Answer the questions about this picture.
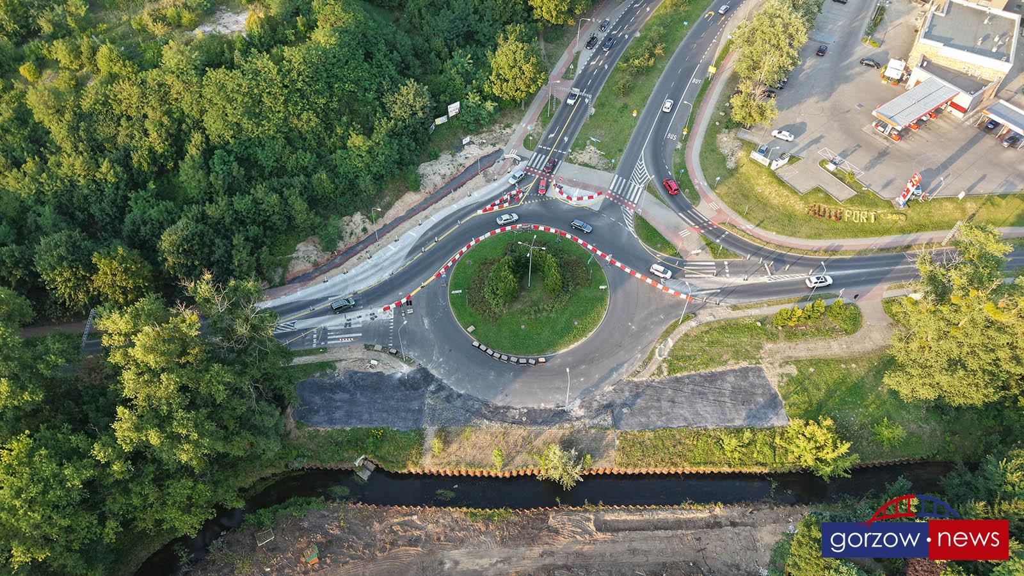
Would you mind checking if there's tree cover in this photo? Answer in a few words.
Yes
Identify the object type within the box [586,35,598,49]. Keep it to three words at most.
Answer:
vehicle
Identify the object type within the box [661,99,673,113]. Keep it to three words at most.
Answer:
vehicle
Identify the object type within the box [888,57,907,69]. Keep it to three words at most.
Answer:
umbrella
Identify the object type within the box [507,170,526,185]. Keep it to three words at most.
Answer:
car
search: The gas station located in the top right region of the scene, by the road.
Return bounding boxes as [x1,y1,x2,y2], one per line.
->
[737,0,1024,204]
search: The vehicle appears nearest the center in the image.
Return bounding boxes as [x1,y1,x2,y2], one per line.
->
[496,213,519,226]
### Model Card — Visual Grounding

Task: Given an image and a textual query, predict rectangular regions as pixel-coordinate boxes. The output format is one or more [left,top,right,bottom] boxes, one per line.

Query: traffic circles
[409,224,682,406]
